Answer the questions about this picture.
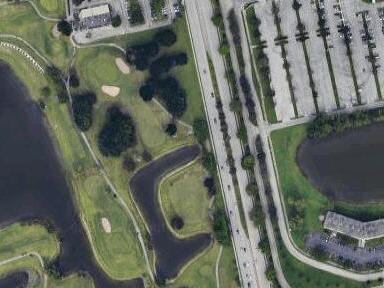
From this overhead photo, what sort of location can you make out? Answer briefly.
golf course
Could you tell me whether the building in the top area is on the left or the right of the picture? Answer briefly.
left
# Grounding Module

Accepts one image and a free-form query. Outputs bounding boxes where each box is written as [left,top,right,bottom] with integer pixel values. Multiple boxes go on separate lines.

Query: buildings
[79,4,111,29]
[323,211,384,245]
